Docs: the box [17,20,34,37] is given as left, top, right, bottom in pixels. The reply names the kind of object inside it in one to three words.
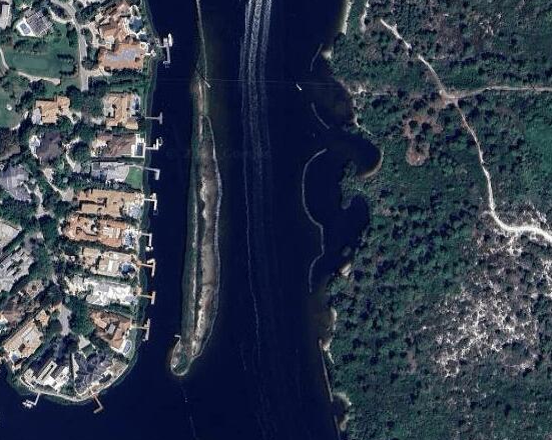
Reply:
swimming pool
